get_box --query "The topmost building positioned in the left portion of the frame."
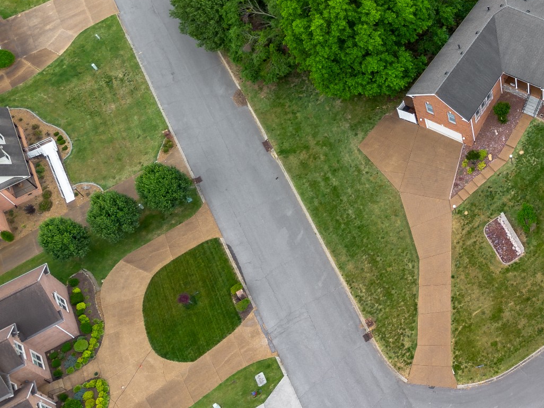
[0,107,47,215]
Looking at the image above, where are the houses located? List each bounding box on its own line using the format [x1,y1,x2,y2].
[406,0,544,144]
[0,107,47,215]
[0,264,80,408]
